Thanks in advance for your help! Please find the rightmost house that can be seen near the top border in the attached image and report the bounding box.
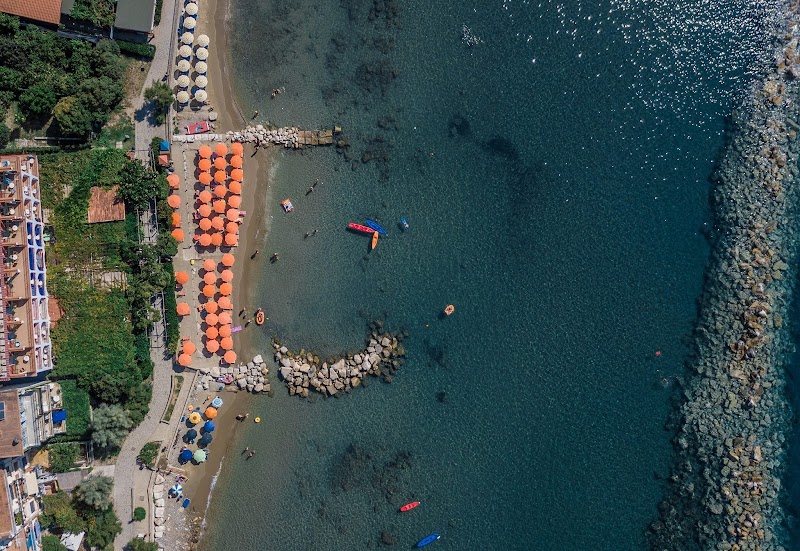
[115,0,166,41]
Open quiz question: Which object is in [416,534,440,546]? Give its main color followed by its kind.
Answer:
blue boat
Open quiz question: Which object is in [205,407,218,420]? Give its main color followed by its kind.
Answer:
orange umbrella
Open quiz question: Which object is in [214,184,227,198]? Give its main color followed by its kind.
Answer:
orange umbrella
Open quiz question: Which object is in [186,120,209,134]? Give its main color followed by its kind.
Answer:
red boat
